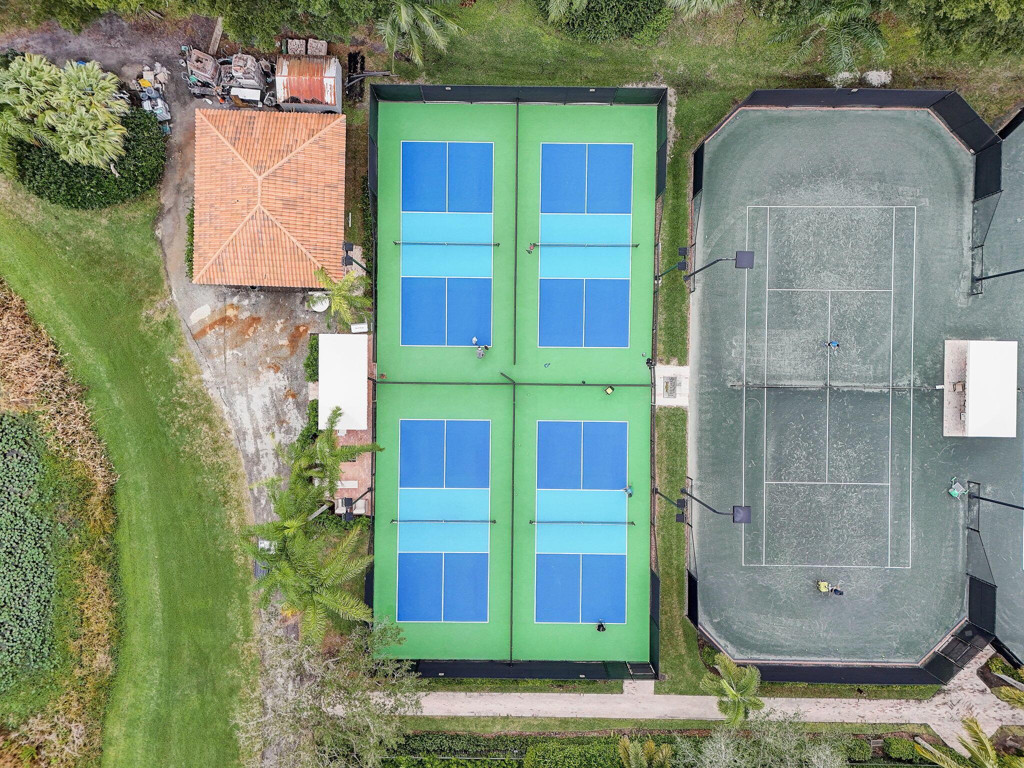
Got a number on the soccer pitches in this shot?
none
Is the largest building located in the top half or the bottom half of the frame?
top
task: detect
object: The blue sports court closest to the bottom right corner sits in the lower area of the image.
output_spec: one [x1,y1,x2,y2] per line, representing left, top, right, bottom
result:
[534,420,629,625]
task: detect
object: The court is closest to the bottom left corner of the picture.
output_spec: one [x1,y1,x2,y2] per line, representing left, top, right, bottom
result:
[396,418,492,624]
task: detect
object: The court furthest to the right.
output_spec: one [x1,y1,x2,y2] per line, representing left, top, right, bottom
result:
[966,127,1024,665]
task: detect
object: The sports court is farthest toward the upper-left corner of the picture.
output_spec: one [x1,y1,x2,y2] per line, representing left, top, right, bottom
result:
[399,141,495,346]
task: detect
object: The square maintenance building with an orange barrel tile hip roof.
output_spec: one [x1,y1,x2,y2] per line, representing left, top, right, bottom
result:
[189,106,349,290]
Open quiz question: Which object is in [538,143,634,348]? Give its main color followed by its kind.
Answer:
blue sports court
